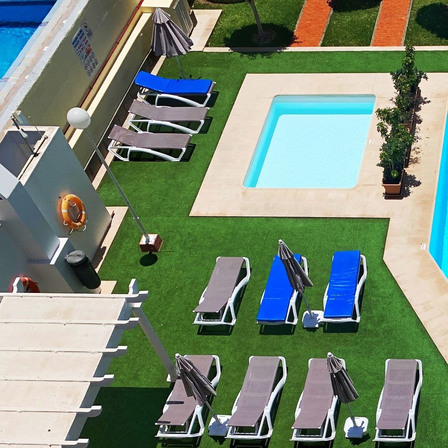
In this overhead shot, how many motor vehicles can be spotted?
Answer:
0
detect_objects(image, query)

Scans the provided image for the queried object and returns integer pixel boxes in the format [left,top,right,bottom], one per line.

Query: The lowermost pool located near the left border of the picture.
[0,3,54,77]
